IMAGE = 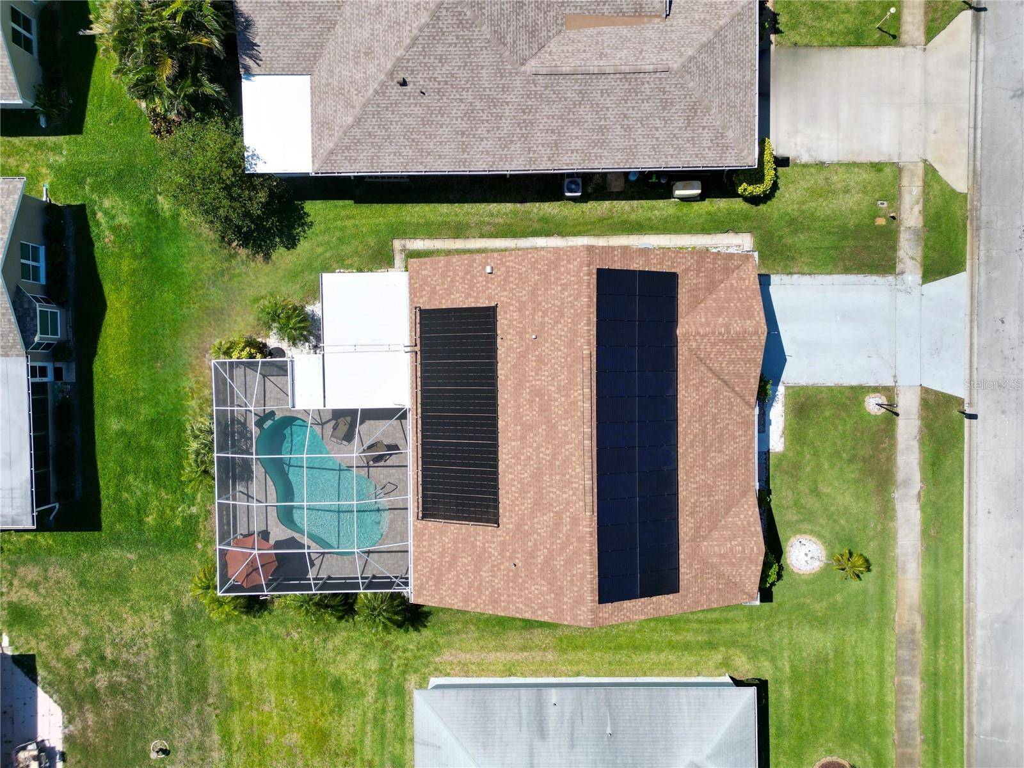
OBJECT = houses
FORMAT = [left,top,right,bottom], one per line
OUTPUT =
[0,175,78,529]
[414,667,760,768]
[232,0,761,179]
[407,245,768,627]
[0,0,49,124]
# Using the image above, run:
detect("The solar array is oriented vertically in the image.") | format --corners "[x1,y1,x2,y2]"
[598,268,678,603]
